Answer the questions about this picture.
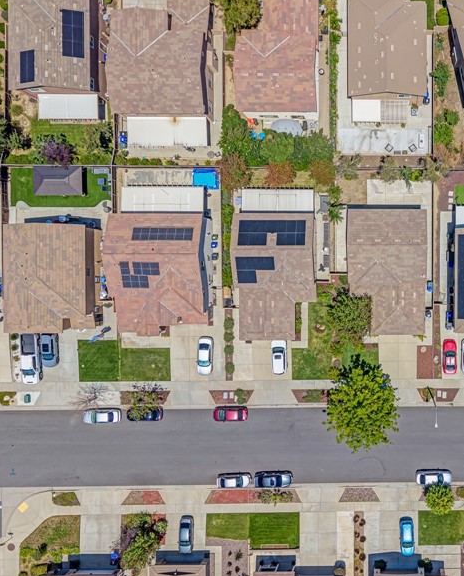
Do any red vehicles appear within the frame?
Yes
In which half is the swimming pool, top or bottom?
top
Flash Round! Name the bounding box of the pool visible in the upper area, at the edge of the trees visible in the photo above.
[192,169,225,192]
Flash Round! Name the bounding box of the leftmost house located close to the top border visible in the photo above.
[8,0,106,122]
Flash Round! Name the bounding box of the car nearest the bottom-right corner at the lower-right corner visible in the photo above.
[397,517,416,555]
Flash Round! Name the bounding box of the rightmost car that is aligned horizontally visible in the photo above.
[415,469,452,486]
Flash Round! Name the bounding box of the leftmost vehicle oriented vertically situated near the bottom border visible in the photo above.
[176,516,194,553]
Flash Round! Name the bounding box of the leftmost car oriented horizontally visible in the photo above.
[83,408,121,426]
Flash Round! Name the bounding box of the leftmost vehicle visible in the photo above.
[17,335,40,383]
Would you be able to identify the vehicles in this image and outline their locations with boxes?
[127,406,165,423]
[397,517,416,555]
[215,472,253,490]
[254,470,292,489]
[176,516,194,553]
[37,332,58,368]
[195,336,213,375]
[83,408,121,426]
[441,338,459,375]
[17,335,40,383]
[415,469,452,486]
[269,340,287,374]
[213,406,249,424]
